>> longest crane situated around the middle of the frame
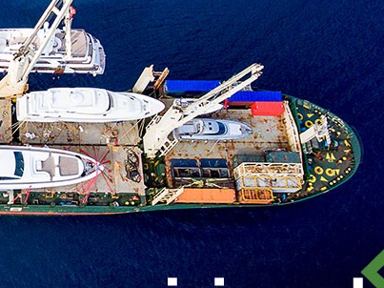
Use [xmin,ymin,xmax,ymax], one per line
[141,65,265,169]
